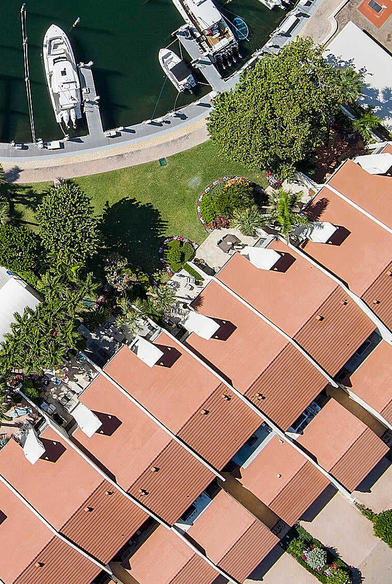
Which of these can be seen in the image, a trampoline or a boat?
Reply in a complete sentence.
I can see a boat in this picture.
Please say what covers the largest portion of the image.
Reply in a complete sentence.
Most of the picture is covered by buildings.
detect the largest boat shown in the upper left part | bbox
[44,24,86,135]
